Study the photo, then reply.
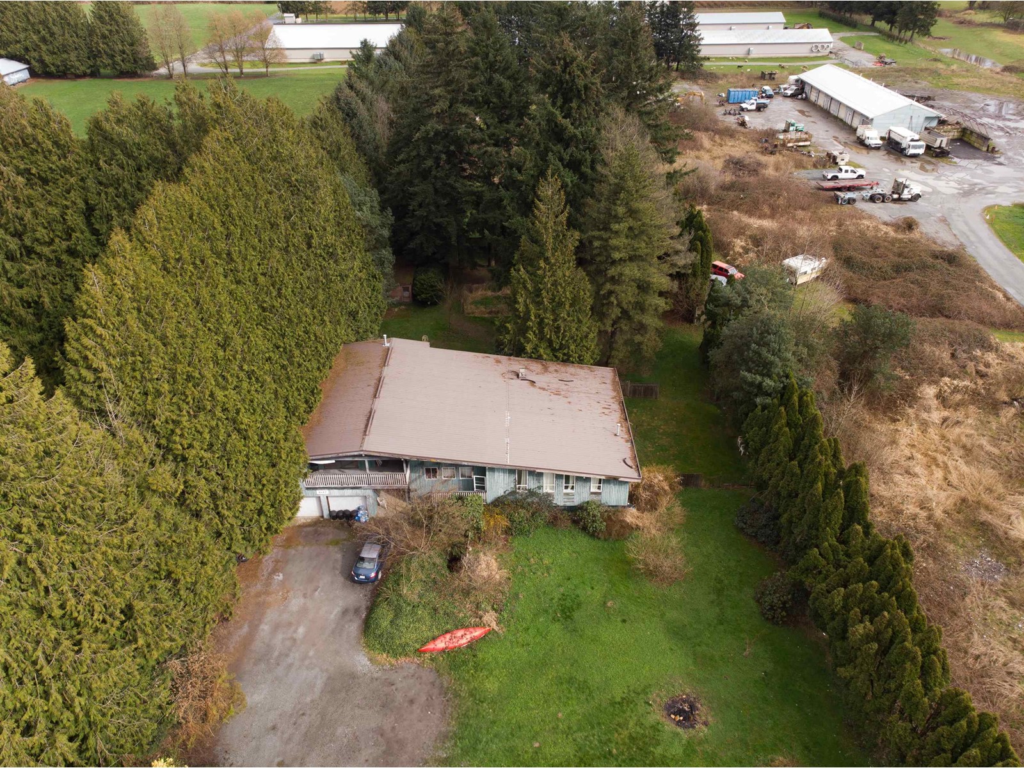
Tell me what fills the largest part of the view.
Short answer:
trees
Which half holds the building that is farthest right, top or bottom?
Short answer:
top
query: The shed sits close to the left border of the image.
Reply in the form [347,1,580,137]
[0,59,30,88]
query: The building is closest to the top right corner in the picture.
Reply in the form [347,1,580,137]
[797,62,948,140]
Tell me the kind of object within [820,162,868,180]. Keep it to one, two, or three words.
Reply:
vehicle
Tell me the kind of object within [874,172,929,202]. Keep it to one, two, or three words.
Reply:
truck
